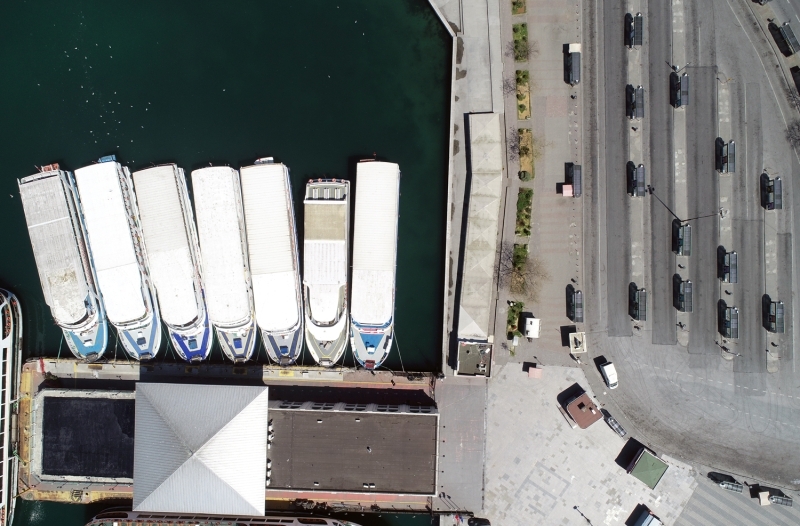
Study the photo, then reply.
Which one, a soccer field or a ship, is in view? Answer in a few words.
ship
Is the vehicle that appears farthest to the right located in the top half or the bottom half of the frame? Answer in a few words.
bottom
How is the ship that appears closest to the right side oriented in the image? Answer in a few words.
up and down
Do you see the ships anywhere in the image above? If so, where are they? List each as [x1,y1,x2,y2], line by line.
[17,167,113,371]
[348,152,401,374]
[133,163,216,370]
[192,164,259,370]
[76,156,167,367]
[87,507,369,526]
[241,156,305,370]
[0,287,27,526]
[302,170,351,374]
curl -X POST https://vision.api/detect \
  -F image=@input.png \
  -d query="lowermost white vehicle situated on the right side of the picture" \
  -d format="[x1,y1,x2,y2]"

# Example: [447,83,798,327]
[597,360,617,388]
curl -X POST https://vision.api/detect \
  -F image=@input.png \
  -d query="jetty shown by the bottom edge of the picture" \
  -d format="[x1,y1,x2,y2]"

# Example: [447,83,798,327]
[21,357,437,513]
